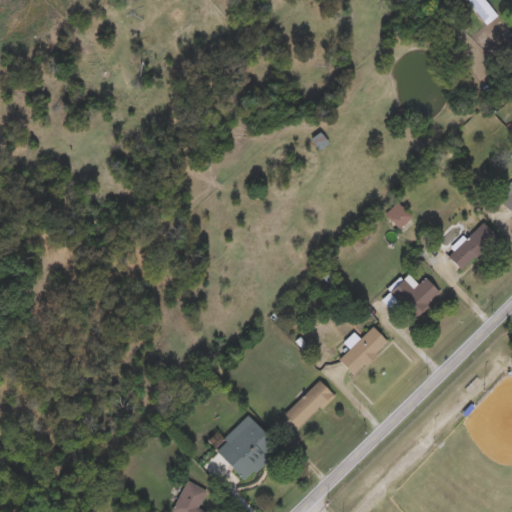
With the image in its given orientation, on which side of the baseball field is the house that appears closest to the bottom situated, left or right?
left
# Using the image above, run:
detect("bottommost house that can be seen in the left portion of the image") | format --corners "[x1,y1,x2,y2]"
[170,482,206,512]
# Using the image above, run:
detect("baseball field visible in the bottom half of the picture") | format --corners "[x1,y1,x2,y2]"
[392,374,512,512]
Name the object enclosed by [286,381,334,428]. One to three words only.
house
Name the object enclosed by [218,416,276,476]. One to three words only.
house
